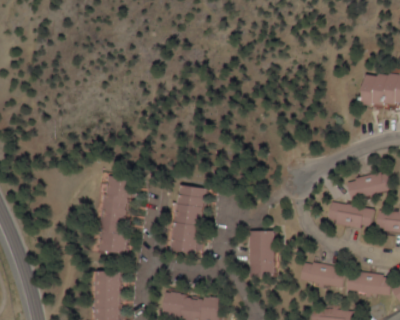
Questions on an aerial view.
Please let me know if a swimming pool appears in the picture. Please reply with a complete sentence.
No, there's no swimming pool here.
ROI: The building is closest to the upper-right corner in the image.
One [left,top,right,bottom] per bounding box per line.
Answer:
[364,74,400,110]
